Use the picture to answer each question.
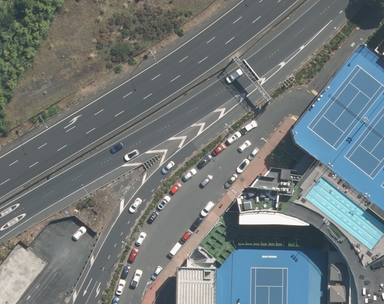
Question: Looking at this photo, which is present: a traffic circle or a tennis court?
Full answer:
Of the two, only a tennis court appears.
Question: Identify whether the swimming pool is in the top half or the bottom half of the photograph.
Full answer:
It is in the bottom half that the swimming pool appears.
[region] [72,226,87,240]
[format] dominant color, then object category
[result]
white car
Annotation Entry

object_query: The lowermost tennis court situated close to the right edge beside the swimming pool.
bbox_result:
[344,108,384,180]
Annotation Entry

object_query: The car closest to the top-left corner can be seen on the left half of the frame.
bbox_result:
[109,141,125,154]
